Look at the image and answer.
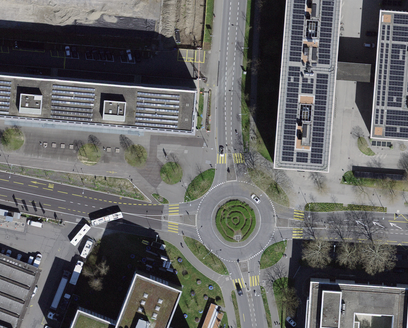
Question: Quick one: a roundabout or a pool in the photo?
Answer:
roundabout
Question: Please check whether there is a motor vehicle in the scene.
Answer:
Yes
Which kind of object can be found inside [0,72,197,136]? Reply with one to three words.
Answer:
building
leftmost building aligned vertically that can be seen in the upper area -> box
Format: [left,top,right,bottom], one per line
[273,0,342,172]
